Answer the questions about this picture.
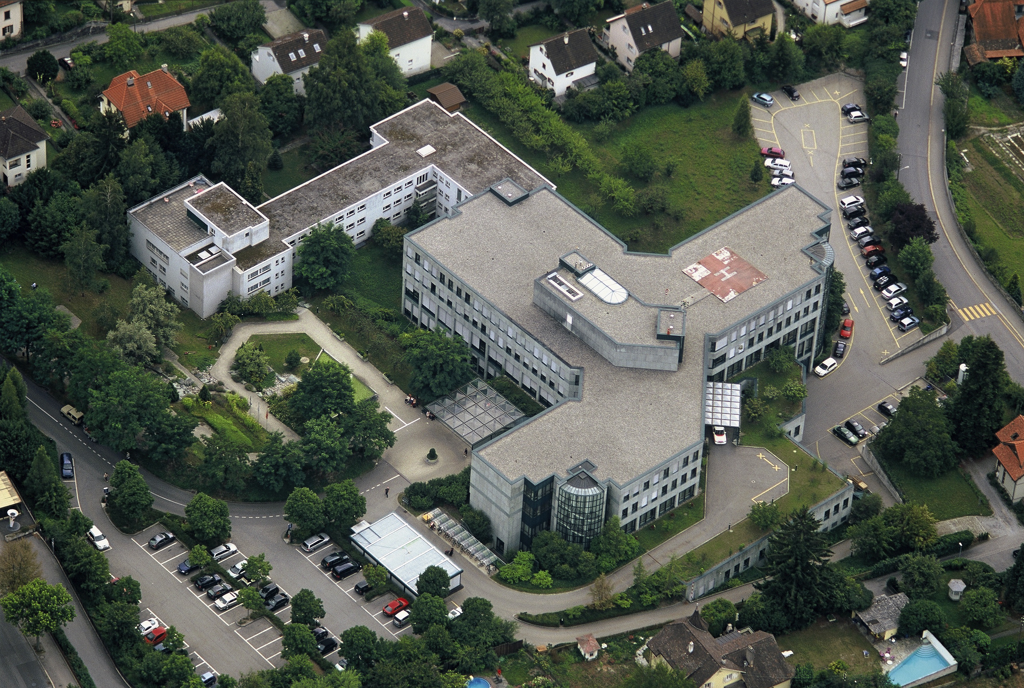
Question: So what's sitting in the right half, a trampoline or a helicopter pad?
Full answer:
Looking in the right half, you will find a helicopter pad.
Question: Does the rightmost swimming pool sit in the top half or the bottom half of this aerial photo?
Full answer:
Seen from above, the rightmost swimming pool lies in the bottom half of the view.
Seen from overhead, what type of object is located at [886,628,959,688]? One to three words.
swimming pool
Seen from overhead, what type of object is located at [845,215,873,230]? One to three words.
car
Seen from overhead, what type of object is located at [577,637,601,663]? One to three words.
shed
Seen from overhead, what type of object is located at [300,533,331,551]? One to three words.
car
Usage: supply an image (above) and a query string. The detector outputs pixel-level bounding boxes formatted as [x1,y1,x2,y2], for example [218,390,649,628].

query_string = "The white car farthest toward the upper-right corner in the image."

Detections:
[898,50,910,68]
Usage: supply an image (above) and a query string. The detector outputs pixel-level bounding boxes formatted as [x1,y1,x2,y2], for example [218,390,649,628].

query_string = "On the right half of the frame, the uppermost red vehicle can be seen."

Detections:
[759,147,786,159]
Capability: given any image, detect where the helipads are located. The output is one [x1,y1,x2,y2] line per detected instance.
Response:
[682,255,769,304]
